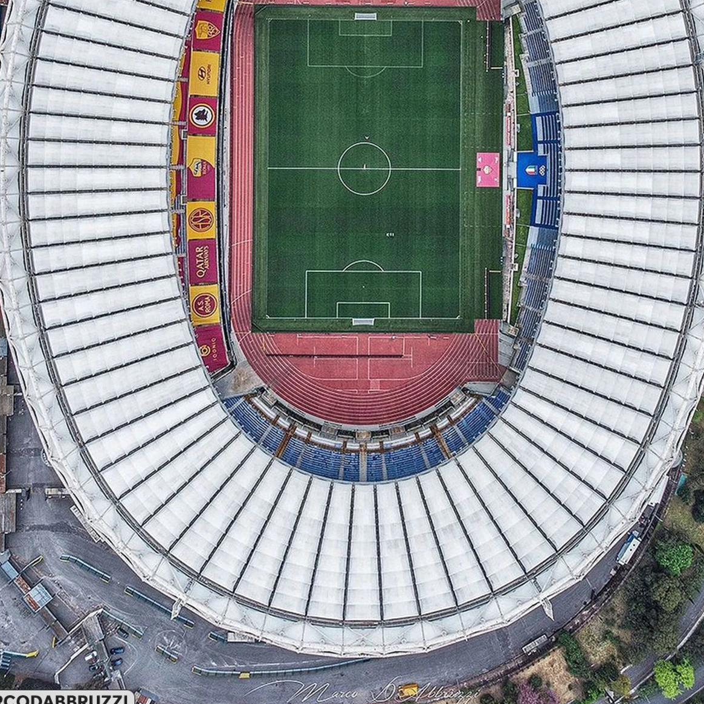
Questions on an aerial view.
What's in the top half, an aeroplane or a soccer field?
soccer field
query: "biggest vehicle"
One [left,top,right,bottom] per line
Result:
[614,532,642,565]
